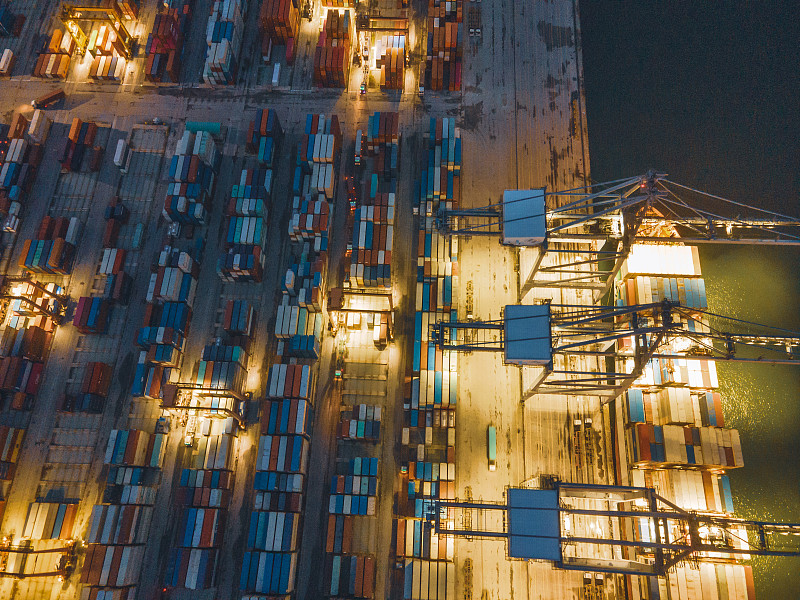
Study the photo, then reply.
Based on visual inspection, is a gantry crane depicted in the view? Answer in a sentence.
Yes, the frame does contain a gantry crane.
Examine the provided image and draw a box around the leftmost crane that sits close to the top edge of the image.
[64,4,142,56]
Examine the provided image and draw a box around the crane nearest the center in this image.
[321,288,400,335]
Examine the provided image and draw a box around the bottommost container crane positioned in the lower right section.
[421,473,800,577]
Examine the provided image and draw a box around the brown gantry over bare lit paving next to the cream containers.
[0,533,80,580]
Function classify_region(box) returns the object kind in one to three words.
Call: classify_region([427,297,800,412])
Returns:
container crane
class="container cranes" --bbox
[0,533,80,580]
[432,175,800,305]
[352,14,415,67]
[64,4,142,56]
[427,297,800,412]
[157,382,252,426]
[321,288,400,335]
[421,473,800,577]
[0,277,72,323]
